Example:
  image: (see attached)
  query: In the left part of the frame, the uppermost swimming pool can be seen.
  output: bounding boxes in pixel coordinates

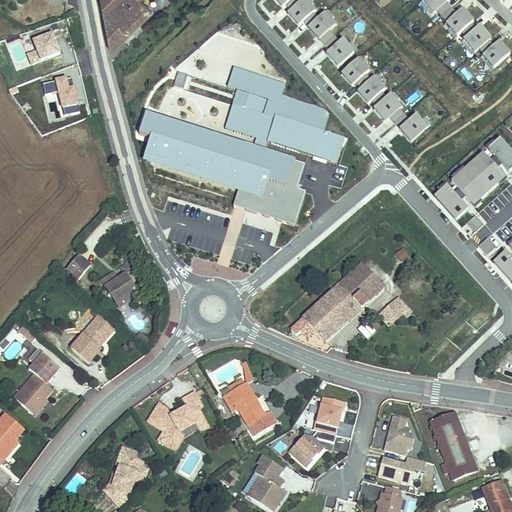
[10,43,26,63]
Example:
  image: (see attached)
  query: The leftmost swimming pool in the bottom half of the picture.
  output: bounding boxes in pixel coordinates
[4,340,22,360]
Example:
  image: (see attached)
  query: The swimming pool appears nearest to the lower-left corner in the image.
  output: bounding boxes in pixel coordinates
[64,472,88,494]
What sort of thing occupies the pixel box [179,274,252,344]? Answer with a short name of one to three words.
roundabout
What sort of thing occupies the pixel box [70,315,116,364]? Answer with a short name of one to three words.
house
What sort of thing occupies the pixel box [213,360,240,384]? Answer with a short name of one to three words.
swimming pool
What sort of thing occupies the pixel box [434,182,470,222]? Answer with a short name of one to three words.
building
